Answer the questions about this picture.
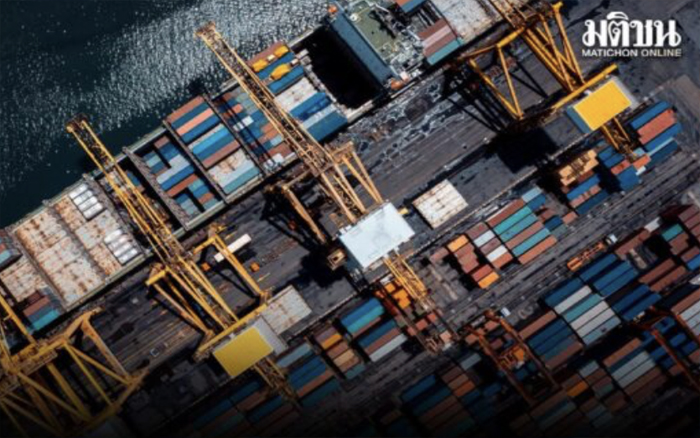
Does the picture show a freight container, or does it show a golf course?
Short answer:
freight container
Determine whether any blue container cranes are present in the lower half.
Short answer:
No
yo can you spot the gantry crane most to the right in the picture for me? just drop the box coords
[625,306,700,398]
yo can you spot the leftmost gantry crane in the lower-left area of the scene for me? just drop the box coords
[0,284,145,438]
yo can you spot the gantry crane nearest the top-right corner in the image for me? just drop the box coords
[457,0,646,168]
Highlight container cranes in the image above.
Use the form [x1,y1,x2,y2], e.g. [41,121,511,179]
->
[367,267,457,354]
[448,300,555,405]
[625,306,700,398]
[0,284,145,438]
[457,0,646,168]
[55,112,299,404]
[200,21,435,311]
